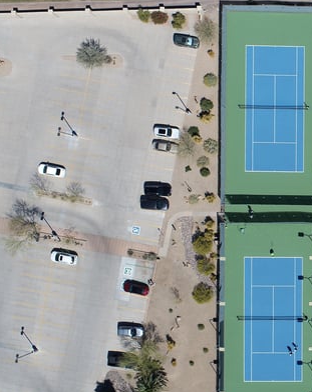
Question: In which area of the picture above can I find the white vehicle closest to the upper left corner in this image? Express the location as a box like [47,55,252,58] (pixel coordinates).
[39,163,66,176]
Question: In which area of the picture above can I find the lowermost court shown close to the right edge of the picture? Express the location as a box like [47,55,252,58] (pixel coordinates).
[224,223,312,392]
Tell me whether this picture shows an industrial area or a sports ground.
sports ground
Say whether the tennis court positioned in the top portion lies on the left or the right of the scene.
right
